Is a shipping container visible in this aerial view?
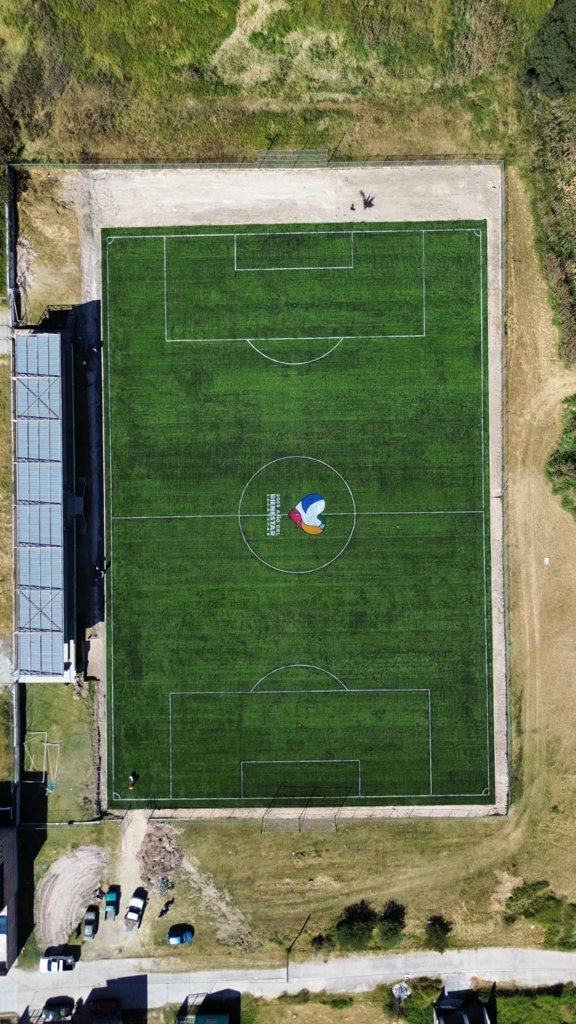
No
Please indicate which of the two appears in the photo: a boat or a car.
car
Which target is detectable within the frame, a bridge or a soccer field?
soccer field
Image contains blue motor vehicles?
Yes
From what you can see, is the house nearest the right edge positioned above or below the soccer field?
below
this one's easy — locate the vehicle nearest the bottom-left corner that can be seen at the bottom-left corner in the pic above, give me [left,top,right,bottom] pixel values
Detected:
[41,1004,72,1022]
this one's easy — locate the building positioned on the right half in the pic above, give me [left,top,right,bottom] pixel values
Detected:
[434,994,492,1024]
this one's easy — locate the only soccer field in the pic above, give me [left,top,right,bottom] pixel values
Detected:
[100,220,496,809]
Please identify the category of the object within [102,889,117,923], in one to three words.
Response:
vehicle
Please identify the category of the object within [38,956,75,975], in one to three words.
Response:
vehicle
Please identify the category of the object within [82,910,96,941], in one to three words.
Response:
car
